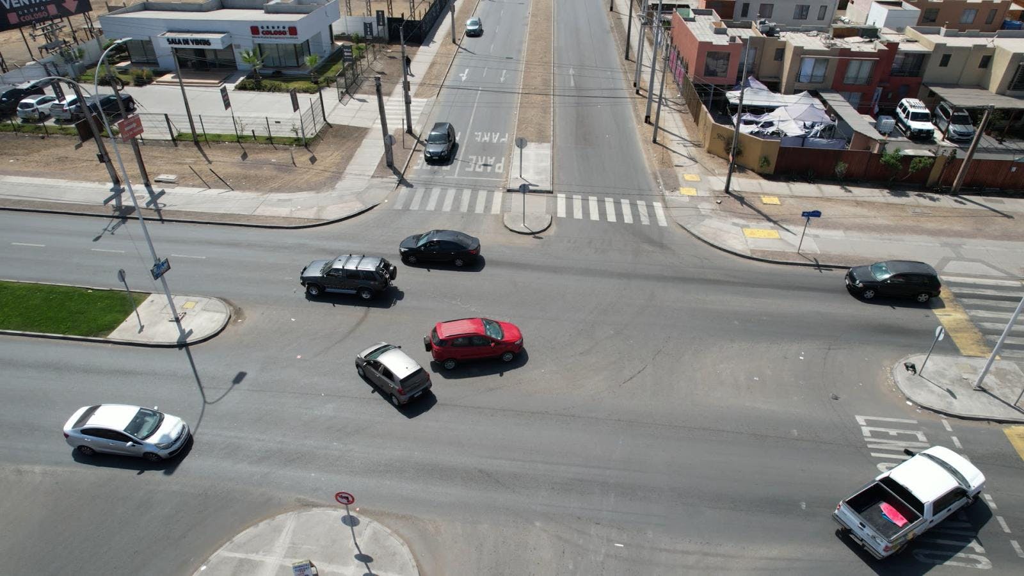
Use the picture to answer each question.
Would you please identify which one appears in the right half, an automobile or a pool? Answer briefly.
automobile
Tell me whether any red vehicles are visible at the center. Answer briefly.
Yes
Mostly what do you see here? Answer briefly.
paved ground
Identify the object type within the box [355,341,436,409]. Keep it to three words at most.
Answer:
car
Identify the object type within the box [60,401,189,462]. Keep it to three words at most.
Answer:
car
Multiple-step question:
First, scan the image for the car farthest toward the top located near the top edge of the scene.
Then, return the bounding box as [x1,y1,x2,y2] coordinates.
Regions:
[464,14,483,34]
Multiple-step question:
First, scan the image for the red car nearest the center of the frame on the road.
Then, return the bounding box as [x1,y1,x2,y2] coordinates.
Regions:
[423,314,522,370]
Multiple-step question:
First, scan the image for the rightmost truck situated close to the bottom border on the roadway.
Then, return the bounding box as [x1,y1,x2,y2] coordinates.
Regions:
[823,447,983,562]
